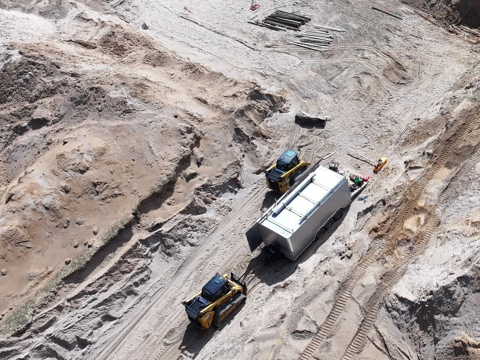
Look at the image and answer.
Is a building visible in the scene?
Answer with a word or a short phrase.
No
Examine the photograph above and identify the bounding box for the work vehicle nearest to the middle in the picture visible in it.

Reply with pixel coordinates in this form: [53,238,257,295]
[253,148,304,192]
